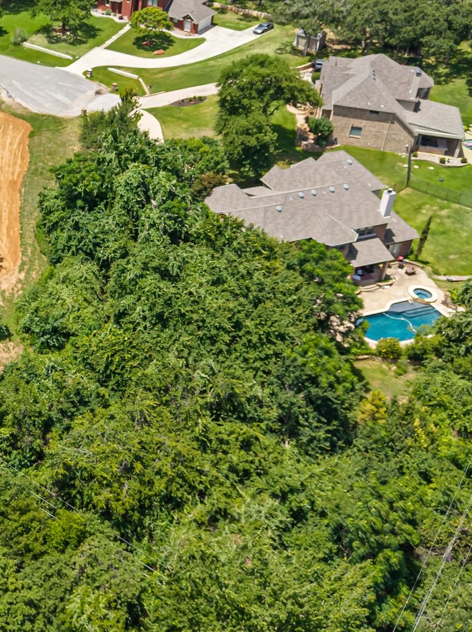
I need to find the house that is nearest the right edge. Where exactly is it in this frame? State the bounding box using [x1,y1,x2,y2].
[314,53,466,158]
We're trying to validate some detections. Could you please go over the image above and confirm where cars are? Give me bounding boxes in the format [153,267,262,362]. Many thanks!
[311,58,324,73]
[251,24,276,35]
